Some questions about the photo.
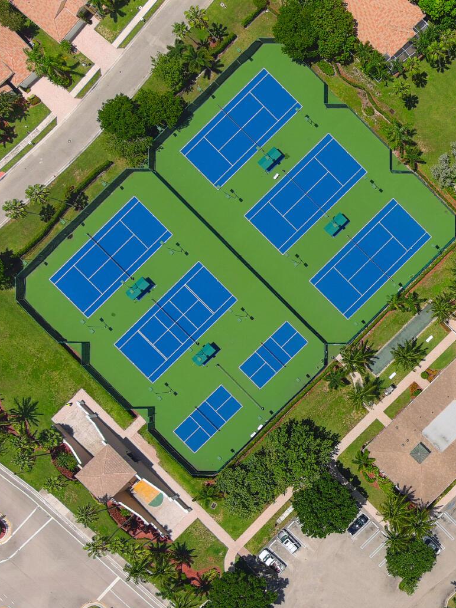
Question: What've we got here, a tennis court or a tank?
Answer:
tennis court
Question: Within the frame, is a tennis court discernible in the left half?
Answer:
Yes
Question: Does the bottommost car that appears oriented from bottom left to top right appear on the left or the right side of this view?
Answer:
right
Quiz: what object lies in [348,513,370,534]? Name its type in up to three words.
car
